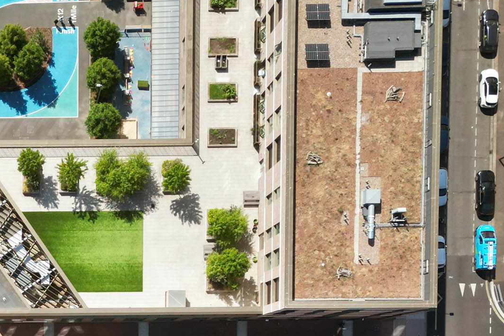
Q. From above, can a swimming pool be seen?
No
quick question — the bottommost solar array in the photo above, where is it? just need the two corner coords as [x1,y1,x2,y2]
[304,43,330,62]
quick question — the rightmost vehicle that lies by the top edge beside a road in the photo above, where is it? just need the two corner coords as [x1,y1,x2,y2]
[478,12,502,56]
